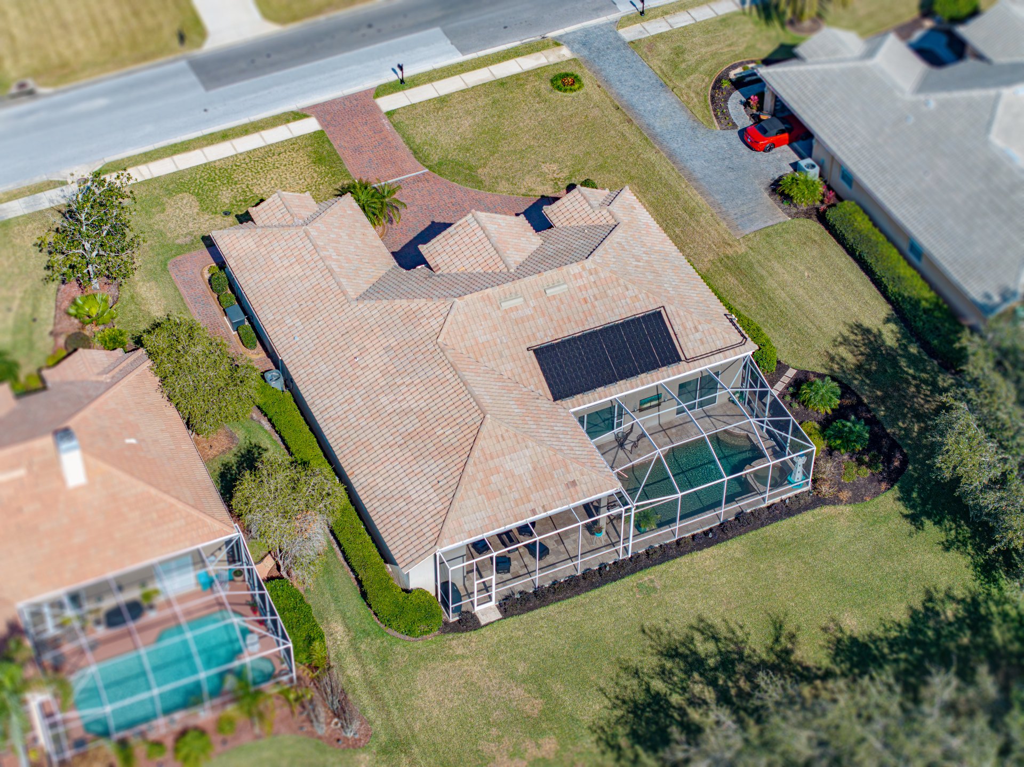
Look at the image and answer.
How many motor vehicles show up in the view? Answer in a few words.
1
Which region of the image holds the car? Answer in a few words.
top right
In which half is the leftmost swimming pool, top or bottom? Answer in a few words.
bottom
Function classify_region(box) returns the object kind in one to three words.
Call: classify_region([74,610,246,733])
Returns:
swimming pool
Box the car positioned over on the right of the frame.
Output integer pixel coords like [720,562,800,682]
[741,110,810,151]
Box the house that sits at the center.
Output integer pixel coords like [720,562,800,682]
[208,179,758,600]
